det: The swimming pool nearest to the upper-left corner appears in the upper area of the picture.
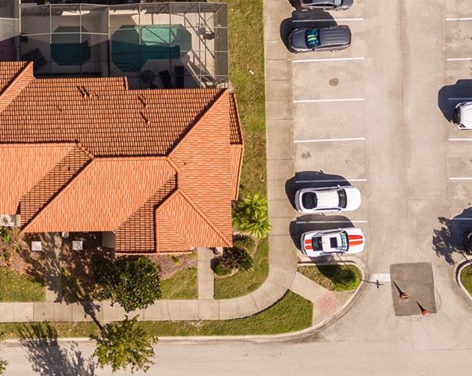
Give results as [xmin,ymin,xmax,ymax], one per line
[51,26,91,65]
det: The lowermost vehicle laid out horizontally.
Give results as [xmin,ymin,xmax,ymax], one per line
[299,225,363,256]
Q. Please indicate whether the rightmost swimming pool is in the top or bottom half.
top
